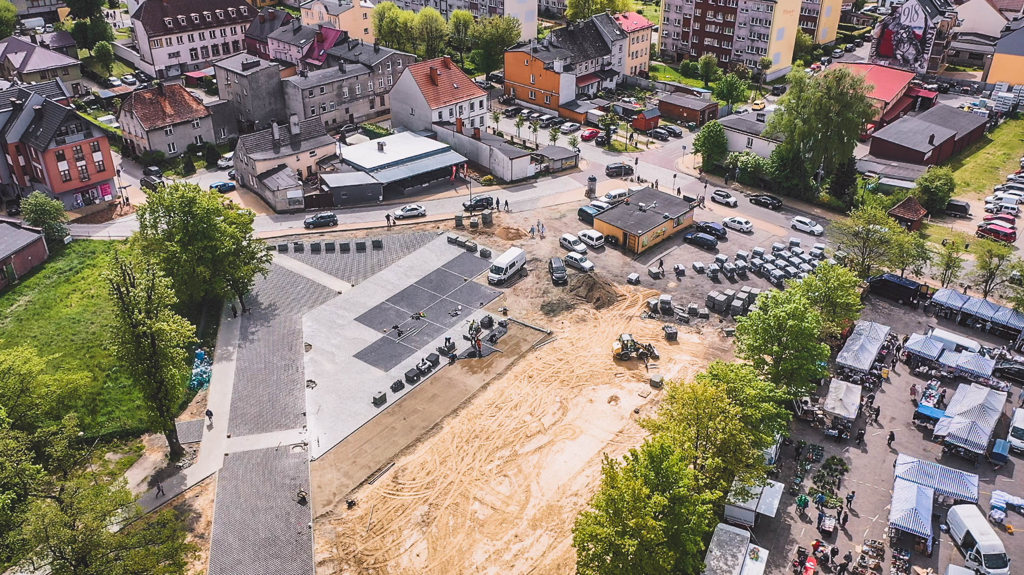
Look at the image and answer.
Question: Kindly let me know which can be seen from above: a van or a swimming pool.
van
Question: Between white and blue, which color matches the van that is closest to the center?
white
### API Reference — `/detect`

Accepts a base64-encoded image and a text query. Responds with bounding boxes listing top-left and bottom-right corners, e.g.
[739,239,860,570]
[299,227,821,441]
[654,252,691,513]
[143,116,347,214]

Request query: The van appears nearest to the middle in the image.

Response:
[489,243,524,282]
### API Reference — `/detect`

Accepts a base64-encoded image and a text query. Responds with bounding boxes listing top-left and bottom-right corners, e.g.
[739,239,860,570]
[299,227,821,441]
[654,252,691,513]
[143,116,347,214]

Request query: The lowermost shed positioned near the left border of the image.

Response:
[0,214,49,282]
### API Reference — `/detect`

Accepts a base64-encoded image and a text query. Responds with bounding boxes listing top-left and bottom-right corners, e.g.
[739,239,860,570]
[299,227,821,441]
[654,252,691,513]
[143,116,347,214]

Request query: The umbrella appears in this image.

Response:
[345,138,371,150]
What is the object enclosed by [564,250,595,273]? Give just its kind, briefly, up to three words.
car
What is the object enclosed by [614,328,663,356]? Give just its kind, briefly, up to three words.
work vehicle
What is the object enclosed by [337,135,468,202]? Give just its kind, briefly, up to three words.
building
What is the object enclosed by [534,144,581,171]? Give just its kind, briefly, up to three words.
shed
